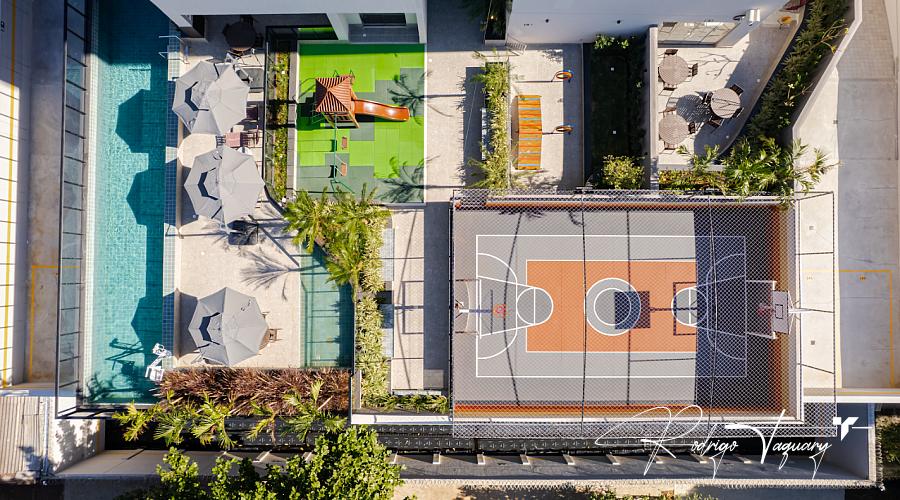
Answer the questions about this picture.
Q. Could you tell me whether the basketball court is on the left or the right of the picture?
right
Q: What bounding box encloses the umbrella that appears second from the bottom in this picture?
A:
[184,146,265,228]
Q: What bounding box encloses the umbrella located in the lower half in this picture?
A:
[187,286,271,368]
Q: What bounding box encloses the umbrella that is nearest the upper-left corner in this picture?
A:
[173,59,252,134]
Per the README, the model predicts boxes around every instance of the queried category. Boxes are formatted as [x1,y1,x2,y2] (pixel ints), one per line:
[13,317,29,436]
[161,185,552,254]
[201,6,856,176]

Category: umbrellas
[187,286,271,368]
[173,59,252,134]
[184,146,265,228]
